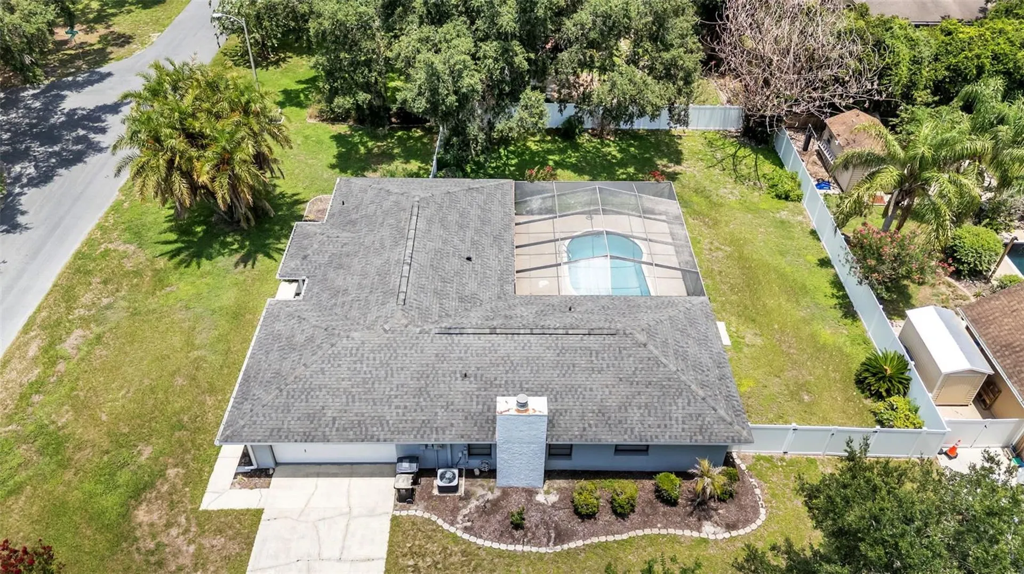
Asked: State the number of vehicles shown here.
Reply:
0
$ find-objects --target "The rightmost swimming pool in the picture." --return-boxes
[975,225,1024,287]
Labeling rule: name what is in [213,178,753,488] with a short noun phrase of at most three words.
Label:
house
